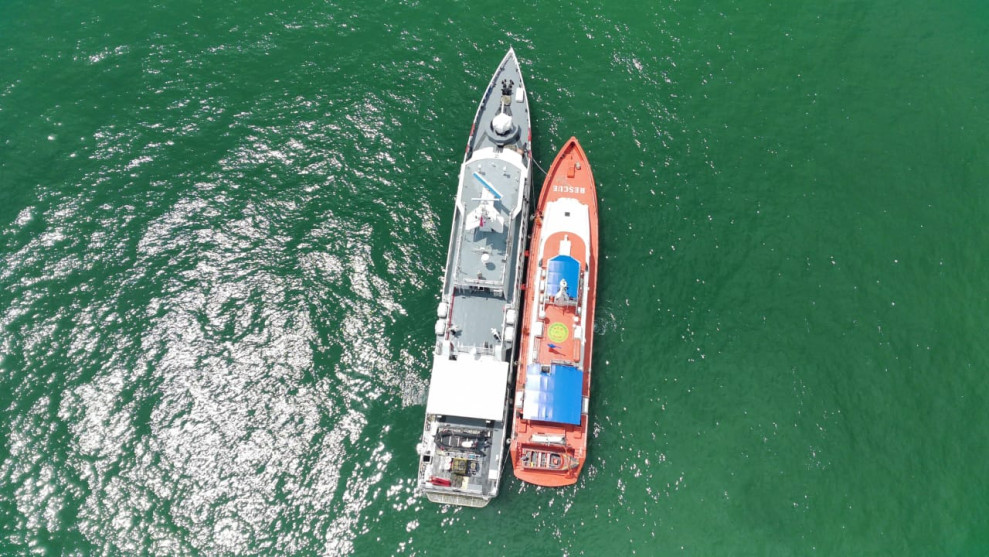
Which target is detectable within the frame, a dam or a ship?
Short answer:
ship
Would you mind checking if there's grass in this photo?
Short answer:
No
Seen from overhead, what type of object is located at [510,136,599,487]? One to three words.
ship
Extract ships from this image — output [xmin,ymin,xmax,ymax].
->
[416,44,530,509]
[510,136,599,487]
